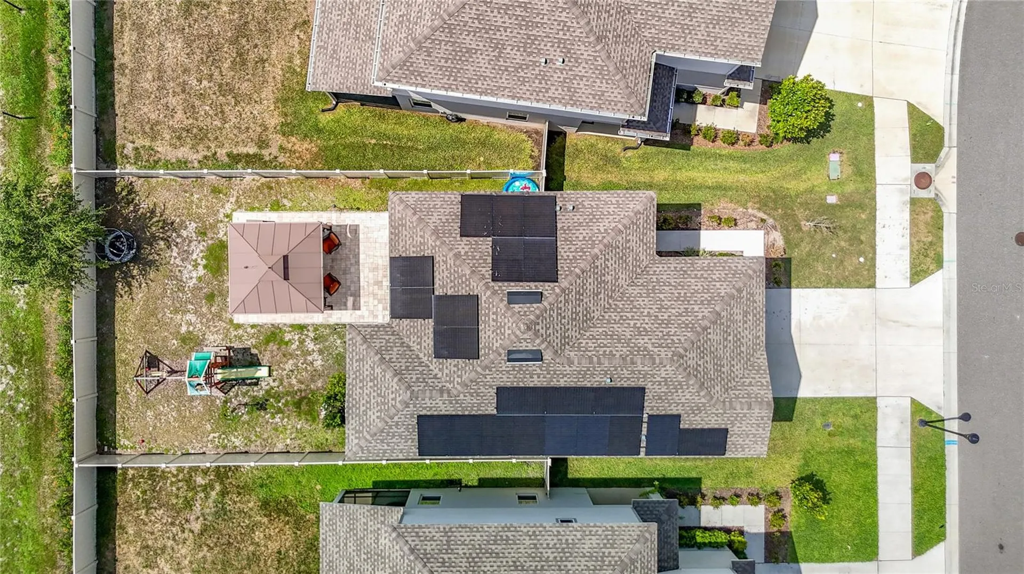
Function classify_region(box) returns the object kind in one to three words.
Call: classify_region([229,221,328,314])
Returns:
gazebo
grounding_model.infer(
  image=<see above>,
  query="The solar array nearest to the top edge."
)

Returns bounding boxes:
[459,195,559,282]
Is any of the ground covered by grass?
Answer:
Yes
